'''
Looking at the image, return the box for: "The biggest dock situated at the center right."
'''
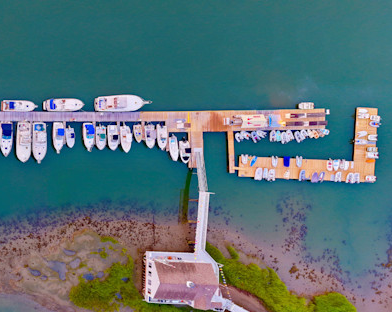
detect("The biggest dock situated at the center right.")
[238,108,378,183]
